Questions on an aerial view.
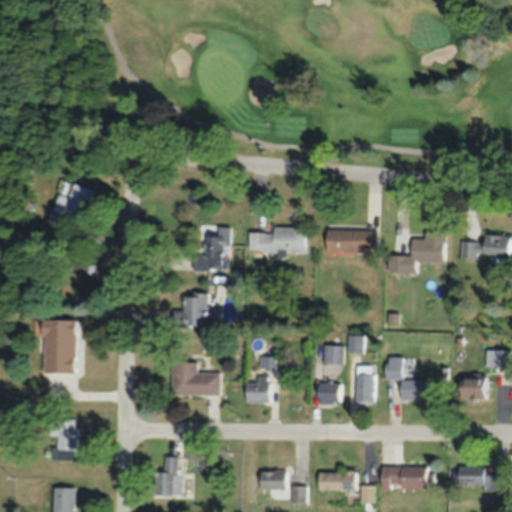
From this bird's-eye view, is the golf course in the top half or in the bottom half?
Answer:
top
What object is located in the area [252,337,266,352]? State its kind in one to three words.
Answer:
swimming pool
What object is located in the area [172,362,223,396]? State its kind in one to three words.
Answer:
house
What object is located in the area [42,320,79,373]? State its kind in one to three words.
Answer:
house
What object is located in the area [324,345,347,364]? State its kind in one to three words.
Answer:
building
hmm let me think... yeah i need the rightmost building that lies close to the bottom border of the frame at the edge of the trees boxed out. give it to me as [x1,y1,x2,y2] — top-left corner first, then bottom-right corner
[456,467,486,488]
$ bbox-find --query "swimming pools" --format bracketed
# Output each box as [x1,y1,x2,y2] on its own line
[426,279,439,292]
[252,337,266,352]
